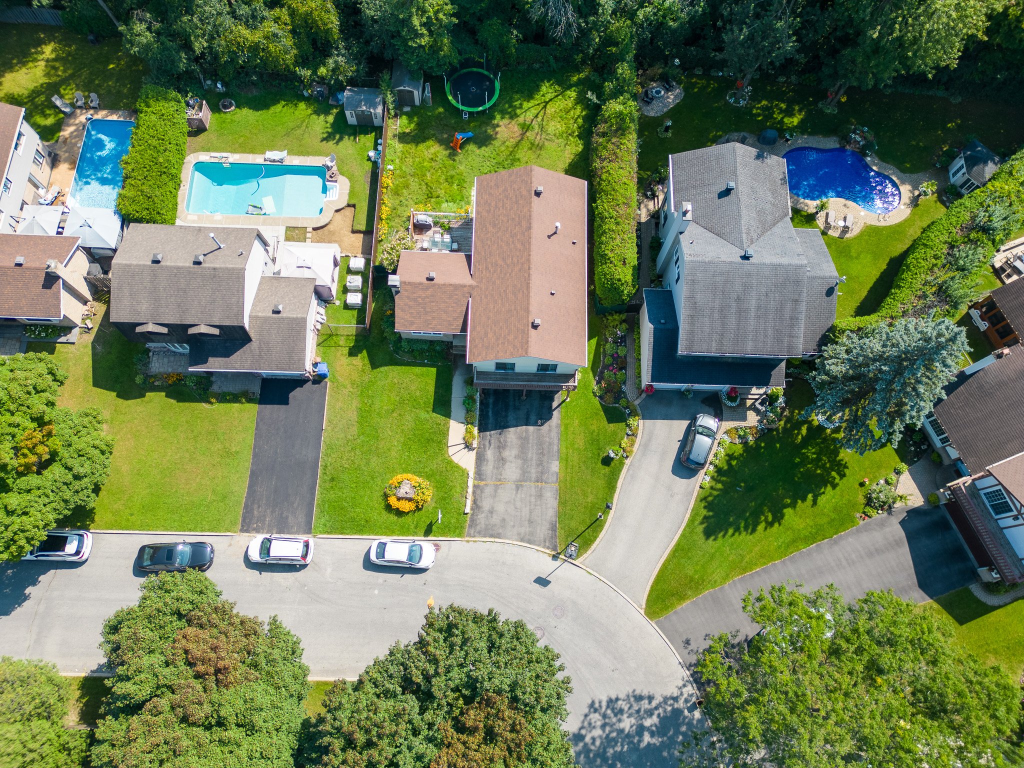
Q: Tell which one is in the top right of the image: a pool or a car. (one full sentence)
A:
Looking in the top right of the image, you will find a pool.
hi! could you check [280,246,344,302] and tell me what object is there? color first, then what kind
white gazebo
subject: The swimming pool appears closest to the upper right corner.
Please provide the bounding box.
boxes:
[781,143,905,220]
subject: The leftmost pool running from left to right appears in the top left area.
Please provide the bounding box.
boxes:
[179,149,350,227]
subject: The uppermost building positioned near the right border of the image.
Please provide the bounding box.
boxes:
[950,137,1024,192]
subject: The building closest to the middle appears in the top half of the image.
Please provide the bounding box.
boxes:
[386,165,589,404]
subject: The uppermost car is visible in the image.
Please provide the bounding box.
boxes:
[680,409,722,474]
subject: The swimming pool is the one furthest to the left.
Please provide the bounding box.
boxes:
[61,117,133,236]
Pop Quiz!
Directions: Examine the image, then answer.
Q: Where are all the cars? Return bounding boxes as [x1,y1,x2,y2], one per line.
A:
[18,528,95,564]
[246,531,316,567]
[680,409,722,474]
[368,537,438,571]
[135,538,216,573]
